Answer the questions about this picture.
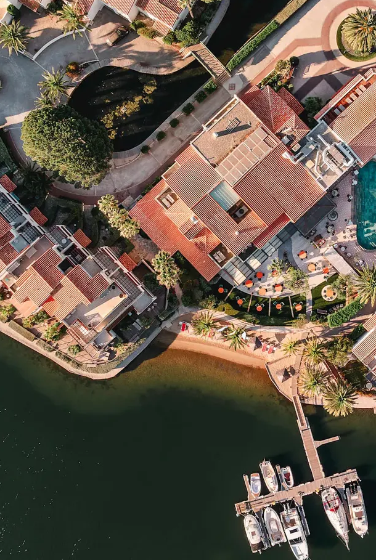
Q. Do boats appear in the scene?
Yes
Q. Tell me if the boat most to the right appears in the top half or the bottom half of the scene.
bottom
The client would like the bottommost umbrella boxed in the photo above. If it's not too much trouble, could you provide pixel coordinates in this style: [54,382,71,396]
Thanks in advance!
[276,367,292,384]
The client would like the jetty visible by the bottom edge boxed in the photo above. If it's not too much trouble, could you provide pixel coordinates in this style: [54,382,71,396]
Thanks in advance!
[233,395,361,548]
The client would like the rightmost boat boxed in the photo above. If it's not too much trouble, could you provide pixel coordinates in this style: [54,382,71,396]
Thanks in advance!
[346,482,367,534]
